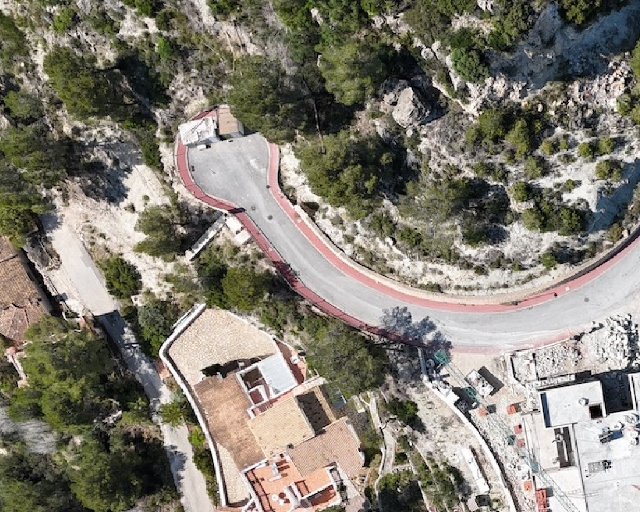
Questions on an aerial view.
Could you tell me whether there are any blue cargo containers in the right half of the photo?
No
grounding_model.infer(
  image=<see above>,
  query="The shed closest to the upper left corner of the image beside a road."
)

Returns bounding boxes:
[179,116,226,149]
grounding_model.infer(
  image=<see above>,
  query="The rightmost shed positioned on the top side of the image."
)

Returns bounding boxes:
[218,106,250,140]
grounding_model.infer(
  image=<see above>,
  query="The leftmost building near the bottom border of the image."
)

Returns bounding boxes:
[194,339,367,512]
